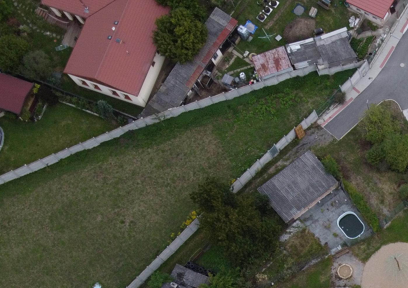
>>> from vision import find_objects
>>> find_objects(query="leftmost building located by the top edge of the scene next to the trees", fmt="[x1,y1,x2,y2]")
[41,0,171,104]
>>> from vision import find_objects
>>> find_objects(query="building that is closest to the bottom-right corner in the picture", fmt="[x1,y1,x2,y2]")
[259,150,341,225]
